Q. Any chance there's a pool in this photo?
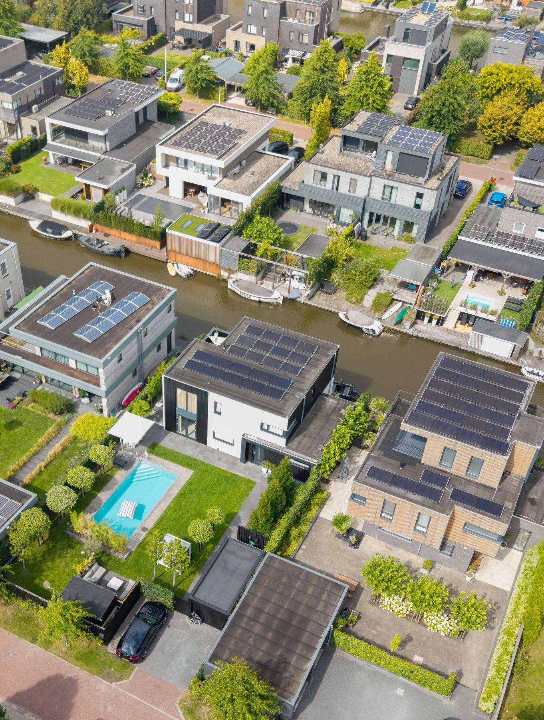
Yes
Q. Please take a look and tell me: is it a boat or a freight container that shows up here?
boat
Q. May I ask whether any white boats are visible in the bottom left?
No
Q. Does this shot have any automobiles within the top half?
Yes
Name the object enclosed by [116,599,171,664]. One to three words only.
car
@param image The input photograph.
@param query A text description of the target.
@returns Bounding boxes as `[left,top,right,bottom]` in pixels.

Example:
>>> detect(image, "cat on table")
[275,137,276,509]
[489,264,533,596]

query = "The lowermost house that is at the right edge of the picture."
[347,351,544,572]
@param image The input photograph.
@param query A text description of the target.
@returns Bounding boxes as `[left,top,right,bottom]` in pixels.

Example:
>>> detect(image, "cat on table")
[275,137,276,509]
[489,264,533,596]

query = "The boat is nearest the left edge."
[29,219,78,242]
